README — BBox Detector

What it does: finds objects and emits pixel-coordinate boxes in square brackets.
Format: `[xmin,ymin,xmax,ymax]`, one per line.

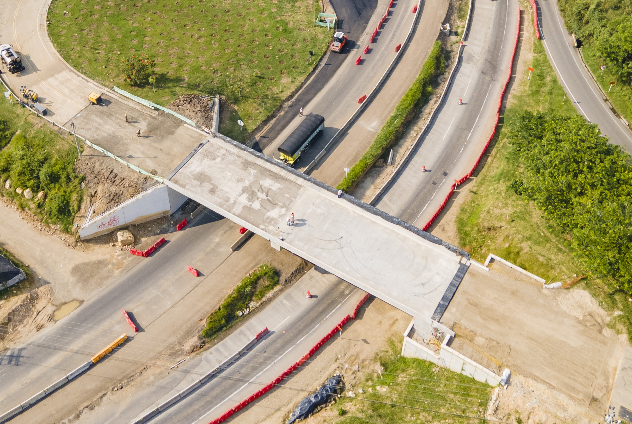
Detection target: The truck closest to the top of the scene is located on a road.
[0,38,25,74]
